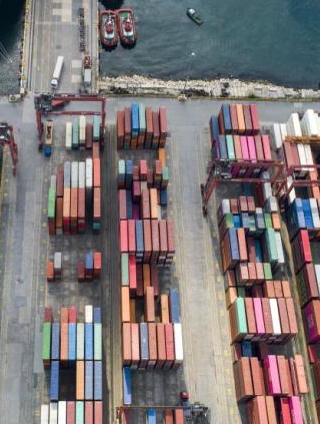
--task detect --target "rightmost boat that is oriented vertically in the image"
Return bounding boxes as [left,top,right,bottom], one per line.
[117,9,138,49]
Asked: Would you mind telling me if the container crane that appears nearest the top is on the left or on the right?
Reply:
left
